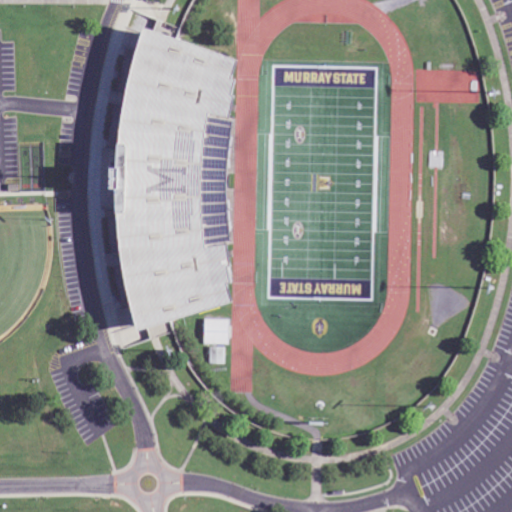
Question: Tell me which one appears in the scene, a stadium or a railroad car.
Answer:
stadium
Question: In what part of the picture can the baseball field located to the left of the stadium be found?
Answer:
left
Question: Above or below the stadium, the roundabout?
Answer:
below it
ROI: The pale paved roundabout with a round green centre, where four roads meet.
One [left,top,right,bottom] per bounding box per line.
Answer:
[115,448,184,512]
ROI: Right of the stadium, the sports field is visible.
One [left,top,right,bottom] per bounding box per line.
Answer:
[257,62,390,352]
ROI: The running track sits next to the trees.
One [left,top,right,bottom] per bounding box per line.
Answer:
[231,0,414,392]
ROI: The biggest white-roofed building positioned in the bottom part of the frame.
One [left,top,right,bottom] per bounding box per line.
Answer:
[204,318,230,346]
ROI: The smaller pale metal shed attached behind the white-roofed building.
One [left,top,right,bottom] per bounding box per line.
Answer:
[210,346,226,364]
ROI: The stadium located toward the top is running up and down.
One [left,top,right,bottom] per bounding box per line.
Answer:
[108,29,237,331]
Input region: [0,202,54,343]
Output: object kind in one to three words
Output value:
baseball field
